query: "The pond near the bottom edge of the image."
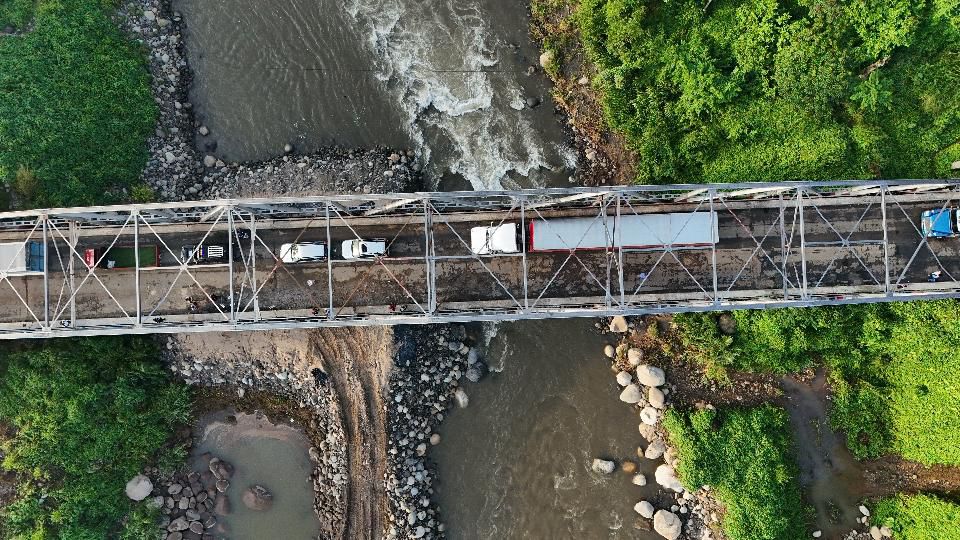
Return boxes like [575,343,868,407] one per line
[199,423,316,540]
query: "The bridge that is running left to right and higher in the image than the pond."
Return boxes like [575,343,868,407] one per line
[0,178,960,339]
